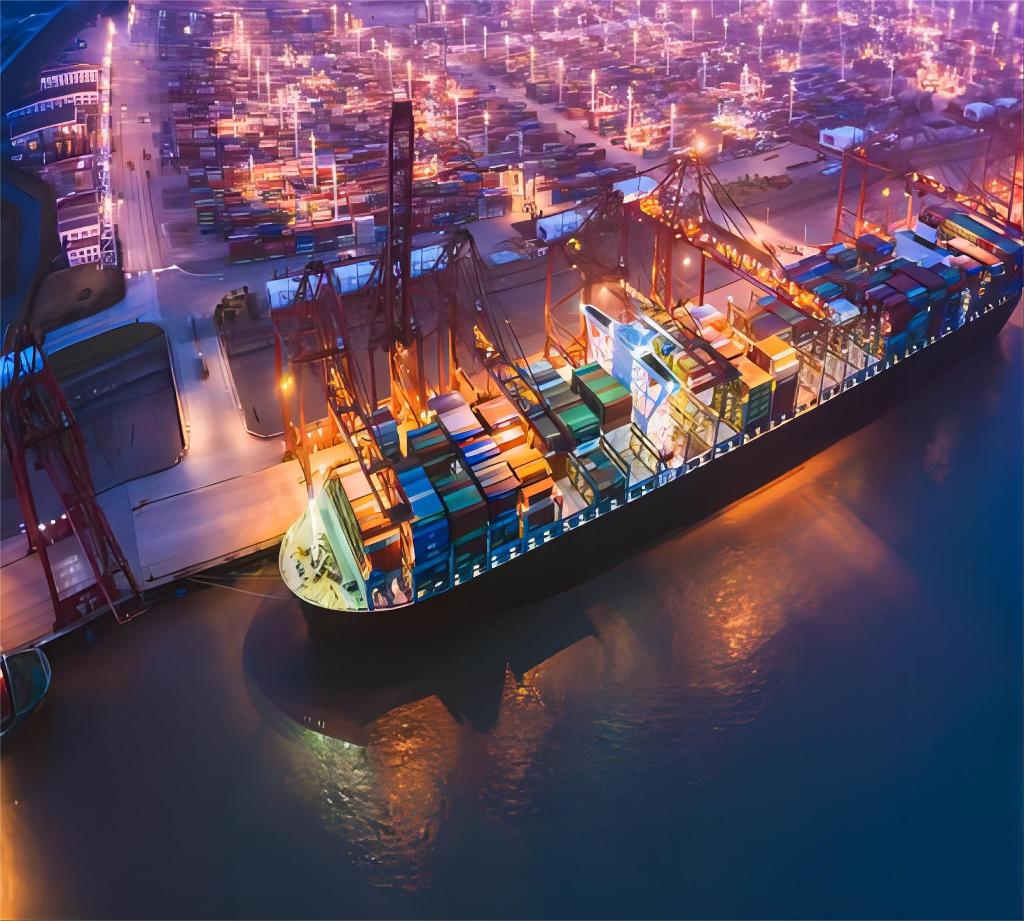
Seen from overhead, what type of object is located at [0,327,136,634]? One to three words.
container crane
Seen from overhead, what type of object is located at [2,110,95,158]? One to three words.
building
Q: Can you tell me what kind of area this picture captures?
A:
port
